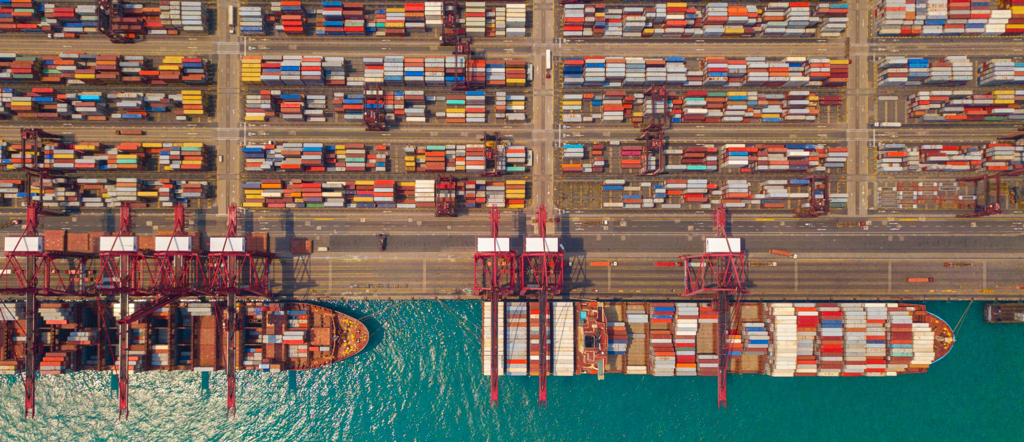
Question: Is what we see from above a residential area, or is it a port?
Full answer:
What you see here is a port.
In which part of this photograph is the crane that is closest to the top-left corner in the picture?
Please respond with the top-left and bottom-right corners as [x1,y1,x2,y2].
[97,0,135,43]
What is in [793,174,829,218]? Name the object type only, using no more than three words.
crane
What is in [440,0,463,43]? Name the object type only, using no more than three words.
crane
